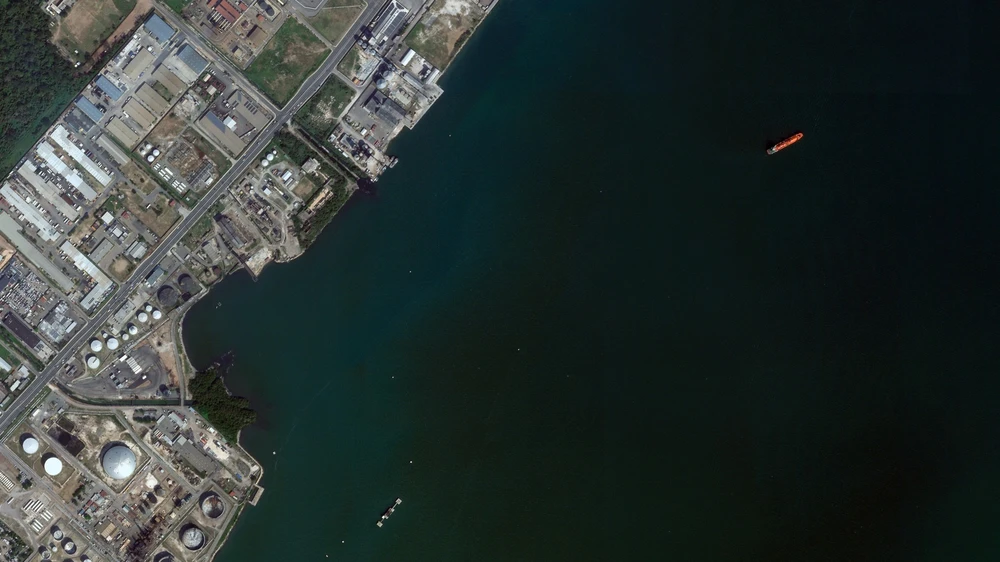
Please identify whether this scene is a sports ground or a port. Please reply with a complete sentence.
What you see here is a port.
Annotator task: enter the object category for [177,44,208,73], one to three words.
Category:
building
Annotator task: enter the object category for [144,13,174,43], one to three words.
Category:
building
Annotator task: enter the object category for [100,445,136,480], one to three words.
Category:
storage tank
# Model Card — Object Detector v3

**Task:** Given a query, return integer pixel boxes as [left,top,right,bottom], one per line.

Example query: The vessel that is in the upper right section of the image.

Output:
[767,133,803,155]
